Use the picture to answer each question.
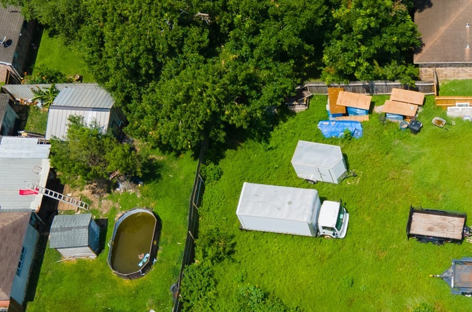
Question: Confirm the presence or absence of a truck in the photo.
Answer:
Yes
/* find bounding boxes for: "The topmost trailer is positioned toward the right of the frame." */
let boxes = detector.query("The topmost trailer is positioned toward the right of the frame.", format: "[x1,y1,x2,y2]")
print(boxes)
[293,142,360,185]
